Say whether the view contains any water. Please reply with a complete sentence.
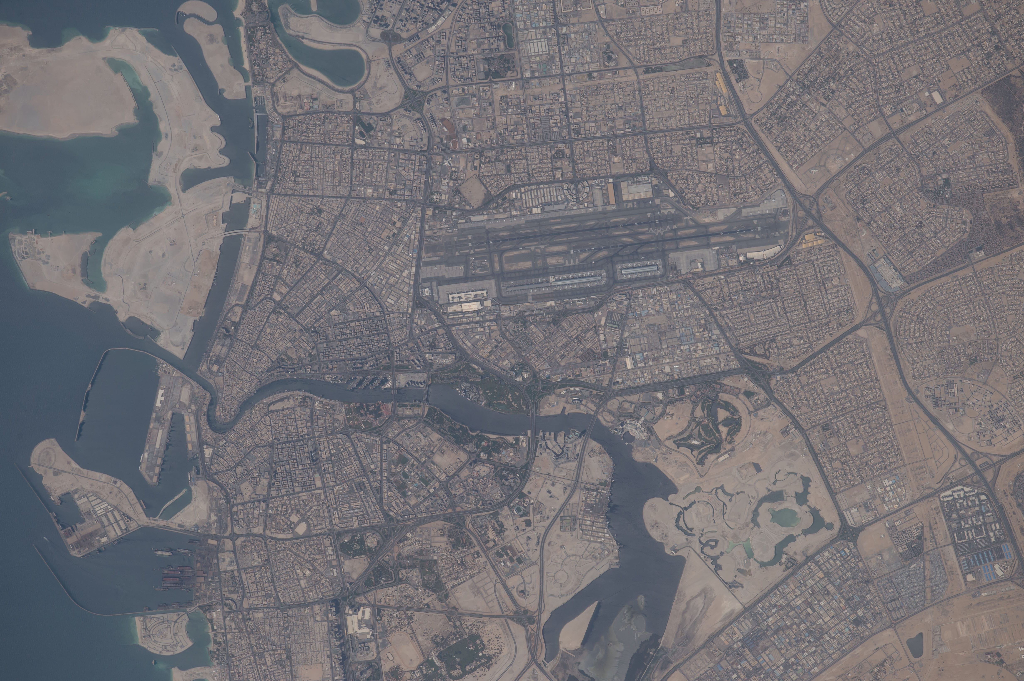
Yes, the picture does contain water.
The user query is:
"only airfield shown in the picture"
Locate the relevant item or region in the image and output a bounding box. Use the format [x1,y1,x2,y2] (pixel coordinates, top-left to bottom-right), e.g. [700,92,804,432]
[419,178,790,305]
